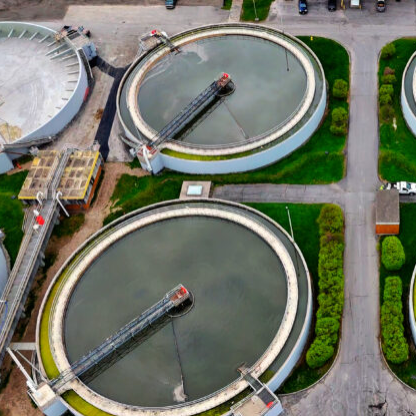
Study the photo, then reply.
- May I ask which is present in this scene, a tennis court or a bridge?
bridge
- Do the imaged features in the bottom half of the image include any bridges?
Yes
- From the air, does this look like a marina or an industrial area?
industrial area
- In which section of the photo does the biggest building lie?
left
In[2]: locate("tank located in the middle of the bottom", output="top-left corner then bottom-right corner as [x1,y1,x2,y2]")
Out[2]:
[24,198,315,416]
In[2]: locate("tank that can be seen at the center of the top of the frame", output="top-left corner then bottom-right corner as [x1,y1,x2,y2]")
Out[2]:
[116,24,328,177]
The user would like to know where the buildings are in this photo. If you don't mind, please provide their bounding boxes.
[17,136,108,213]
[375,191,400,232]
